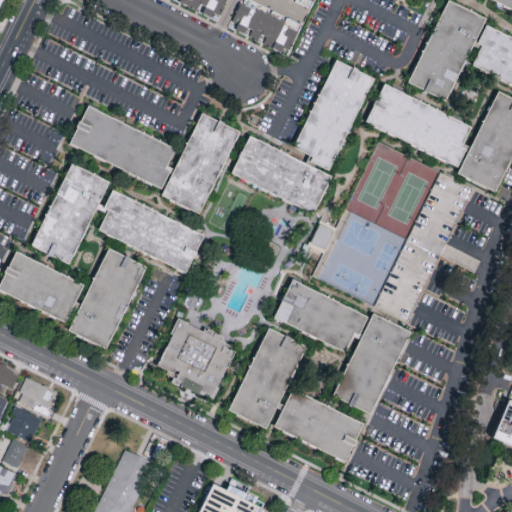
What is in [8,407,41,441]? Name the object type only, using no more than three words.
house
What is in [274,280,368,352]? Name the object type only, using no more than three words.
building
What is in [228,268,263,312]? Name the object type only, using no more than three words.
swimming pool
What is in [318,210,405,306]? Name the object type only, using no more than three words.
sports court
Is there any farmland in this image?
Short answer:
No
